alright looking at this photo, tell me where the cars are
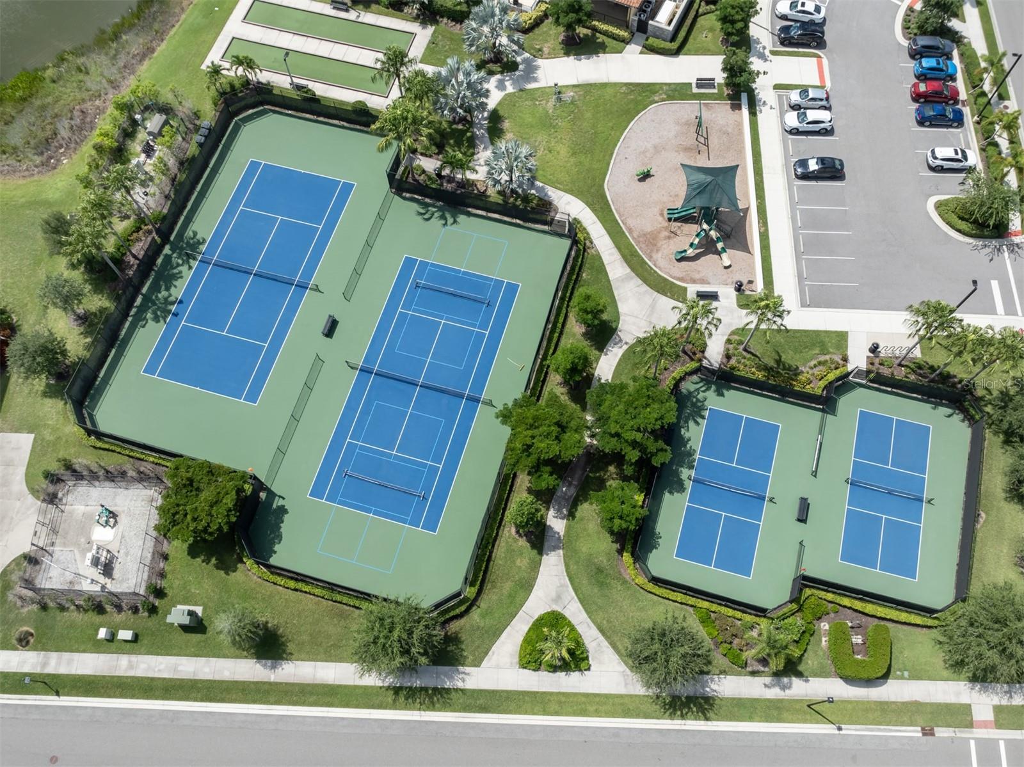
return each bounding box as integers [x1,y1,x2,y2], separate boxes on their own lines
[776,0,824,23]
[907,33,956,58]
[912,80,963,104]
[927,145,979,171]
[778,21,826,47]
[788,86,834,110]
[784,109,835,134]
[793,154,847,179]
[916,103,968,127]
[911,55,961,80]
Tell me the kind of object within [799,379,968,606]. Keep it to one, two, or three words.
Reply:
sports court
